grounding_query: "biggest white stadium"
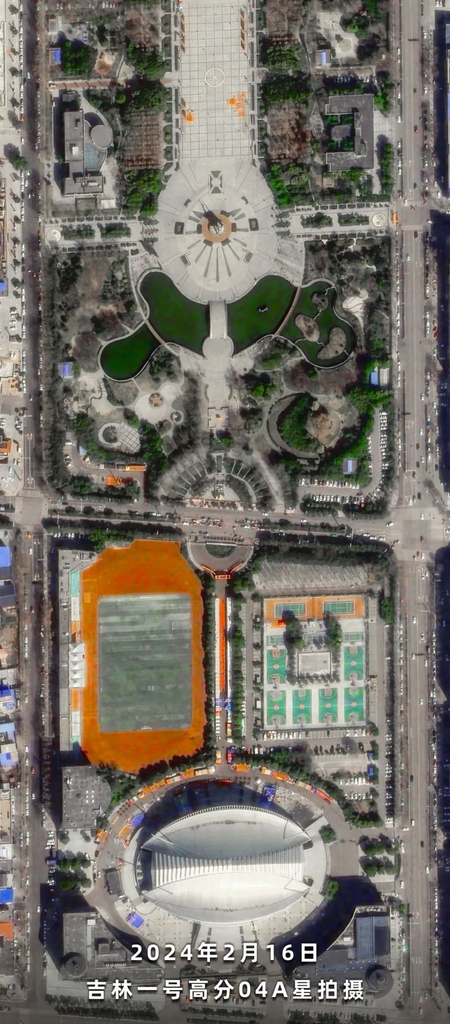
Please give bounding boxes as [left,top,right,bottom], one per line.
[133,804,313,929]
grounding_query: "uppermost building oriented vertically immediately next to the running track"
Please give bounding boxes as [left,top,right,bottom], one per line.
[58,550,96,751]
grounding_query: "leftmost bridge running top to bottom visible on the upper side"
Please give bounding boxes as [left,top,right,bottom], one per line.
[209,300,227,338]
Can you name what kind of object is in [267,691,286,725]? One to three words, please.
basketball court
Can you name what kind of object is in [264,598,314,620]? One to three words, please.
tennis court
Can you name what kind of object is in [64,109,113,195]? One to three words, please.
building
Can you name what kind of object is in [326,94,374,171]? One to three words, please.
building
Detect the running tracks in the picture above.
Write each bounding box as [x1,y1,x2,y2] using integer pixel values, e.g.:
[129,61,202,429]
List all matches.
[81,540,207,773]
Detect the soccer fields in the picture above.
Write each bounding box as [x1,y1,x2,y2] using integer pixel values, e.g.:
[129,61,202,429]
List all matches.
[99,594,191,732]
